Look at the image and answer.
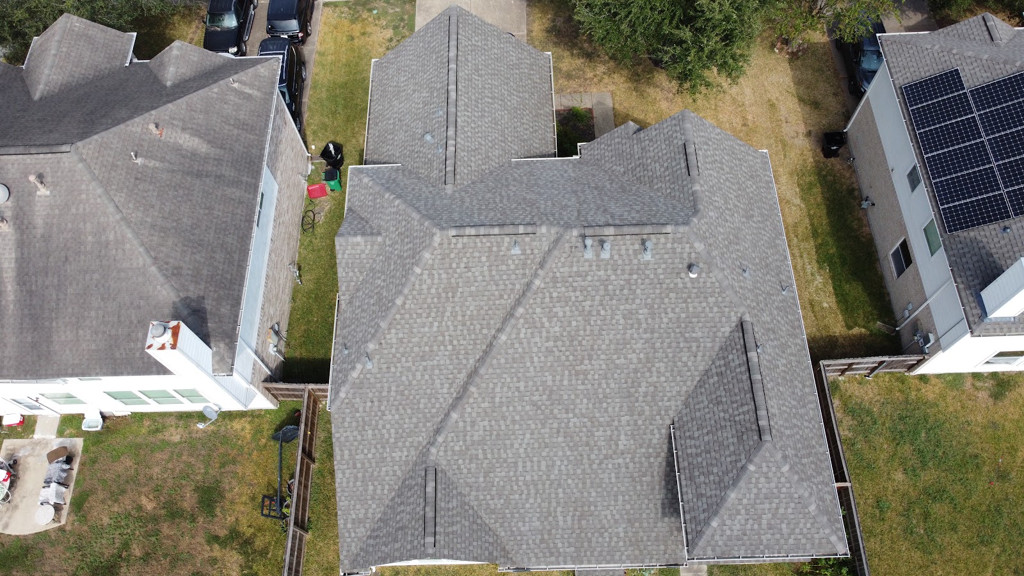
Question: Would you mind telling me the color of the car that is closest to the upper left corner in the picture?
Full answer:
The car that is closest to the upper left corner is black.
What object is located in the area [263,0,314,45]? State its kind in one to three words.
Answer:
car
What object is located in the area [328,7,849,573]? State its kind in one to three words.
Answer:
house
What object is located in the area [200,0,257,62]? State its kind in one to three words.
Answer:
car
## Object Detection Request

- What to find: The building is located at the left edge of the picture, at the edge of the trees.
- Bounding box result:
[0,15,314,416]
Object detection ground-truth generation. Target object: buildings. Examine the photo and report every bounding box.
[839,15,1024,374]
[328,7,849,573]
[0,15,314,416]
